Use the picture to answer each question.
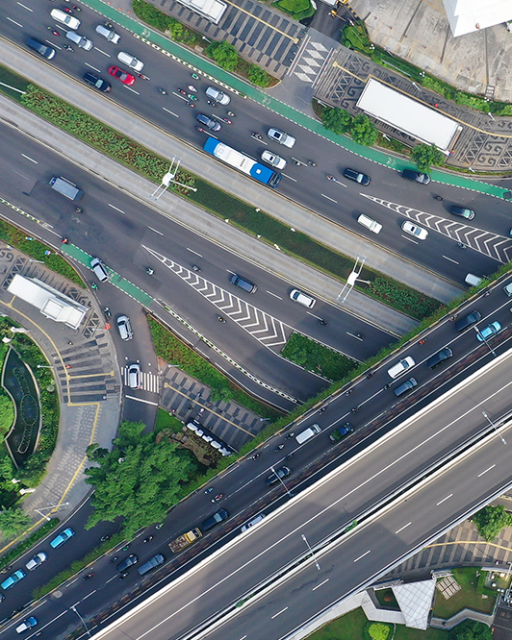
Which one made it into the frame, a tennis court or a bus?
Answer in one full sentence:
It is a bus that can be seen here.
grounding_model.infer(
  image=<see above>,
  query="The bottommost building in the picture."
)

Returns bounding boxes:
[392,578,440,630]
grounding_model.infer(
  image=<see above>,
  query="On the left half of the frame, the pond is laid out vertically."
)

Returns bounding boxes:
[5,349,41,467]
